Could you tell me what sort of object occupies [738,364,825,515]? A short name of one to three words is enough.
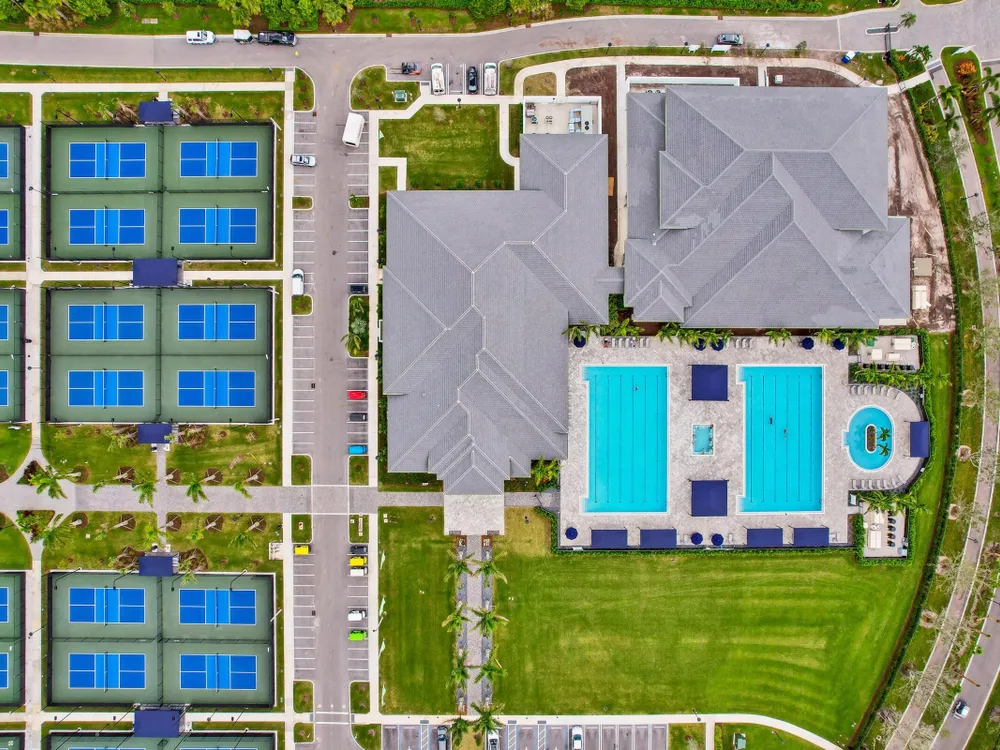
swimming pool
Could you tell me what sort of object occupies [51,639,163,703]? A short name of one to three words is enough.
sports court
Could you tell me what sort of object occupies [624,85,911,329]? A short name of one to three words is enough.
building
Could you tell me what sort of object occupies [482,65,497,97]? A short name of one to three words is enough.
vehicle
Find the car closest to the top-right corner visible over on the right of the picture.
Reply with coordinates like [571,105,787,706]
[717,32,744,47]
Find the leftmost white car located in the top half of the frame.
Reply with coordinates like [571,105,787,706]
[186,28,215,44]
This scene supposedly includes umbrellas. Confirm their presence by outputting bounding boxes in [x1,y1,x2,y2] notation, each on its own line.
[690,532,702,544]
[711,533,723,545]
[830,339,843,350]
[573,335,585,347]
[693,339,705,351]
[800,338,812,350]
[710,340,722,351]
[565,527,577,539]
